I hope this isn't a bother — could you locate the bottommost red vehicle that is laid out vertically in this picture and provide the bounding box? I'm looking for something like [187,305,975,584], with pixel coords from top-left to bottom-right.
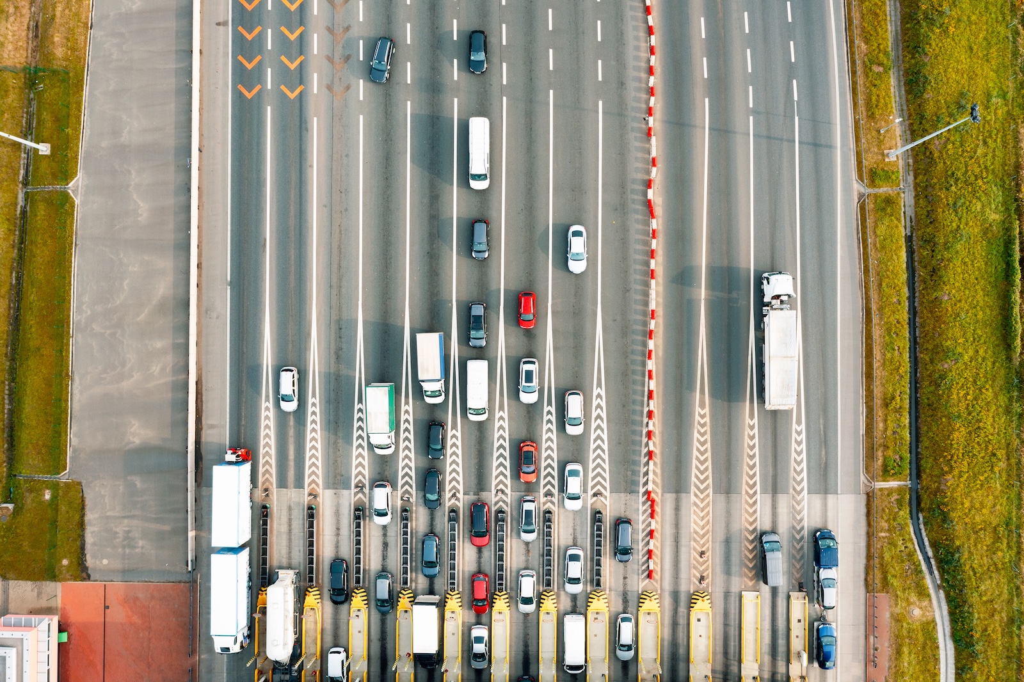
[469,572,489,613]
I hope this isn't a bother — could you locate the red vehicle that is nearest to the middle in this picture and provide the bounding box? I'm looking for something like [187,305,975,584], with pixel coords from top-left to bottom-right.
[516,291,536,329]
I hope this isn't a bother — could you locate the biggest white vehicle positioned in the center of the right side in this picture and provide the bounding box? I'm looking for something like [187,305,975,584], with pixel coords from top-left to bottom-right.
[757,272,796,410]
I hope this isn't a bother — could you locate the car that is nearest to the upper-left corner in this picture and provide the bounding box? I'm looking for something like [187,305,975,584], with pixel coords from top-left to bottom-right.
[369,35,397,84]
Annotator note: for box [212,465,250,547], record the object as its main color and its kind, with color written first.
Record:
white trailer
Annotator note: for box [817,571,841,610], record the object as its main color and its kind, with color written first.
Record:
white car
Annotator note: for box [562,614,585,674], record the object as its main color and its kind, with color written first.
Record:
white vehicle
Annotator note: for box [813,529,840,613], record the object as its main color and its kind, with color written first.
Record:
blue truck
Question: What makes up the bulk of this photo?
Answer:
paved ground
